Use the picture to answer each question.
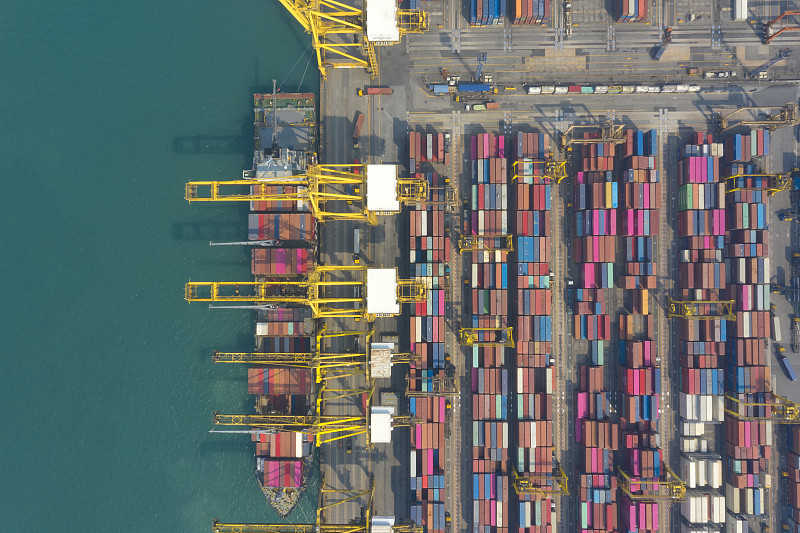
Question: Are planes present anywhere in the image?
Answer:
No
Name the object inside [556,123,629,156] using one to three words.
crane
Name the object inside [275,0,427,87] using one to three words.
container crane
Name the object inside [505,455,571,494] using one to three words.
crane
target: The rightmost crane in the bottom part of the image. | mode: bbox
[723,394,795,420]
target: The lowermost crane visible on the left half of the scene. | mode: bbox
[209,474,421,533]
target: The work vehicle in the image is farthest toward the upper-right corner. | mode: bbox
[743,45,800,82]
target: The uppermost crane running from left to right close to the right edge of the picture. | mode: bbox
[714,106,799,140]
